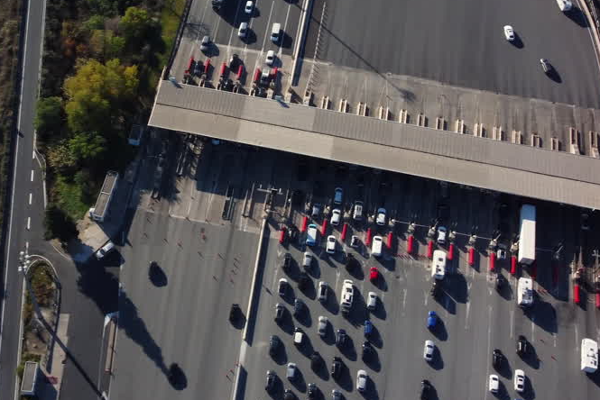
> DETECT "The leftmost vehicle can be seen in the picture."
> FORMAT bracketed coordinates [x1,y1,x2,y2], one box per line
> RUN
[95,241,115,260]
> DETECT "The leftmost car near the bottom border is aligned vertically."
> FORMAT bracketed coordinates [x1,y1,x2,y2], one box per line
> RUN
[168,356,183,383]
